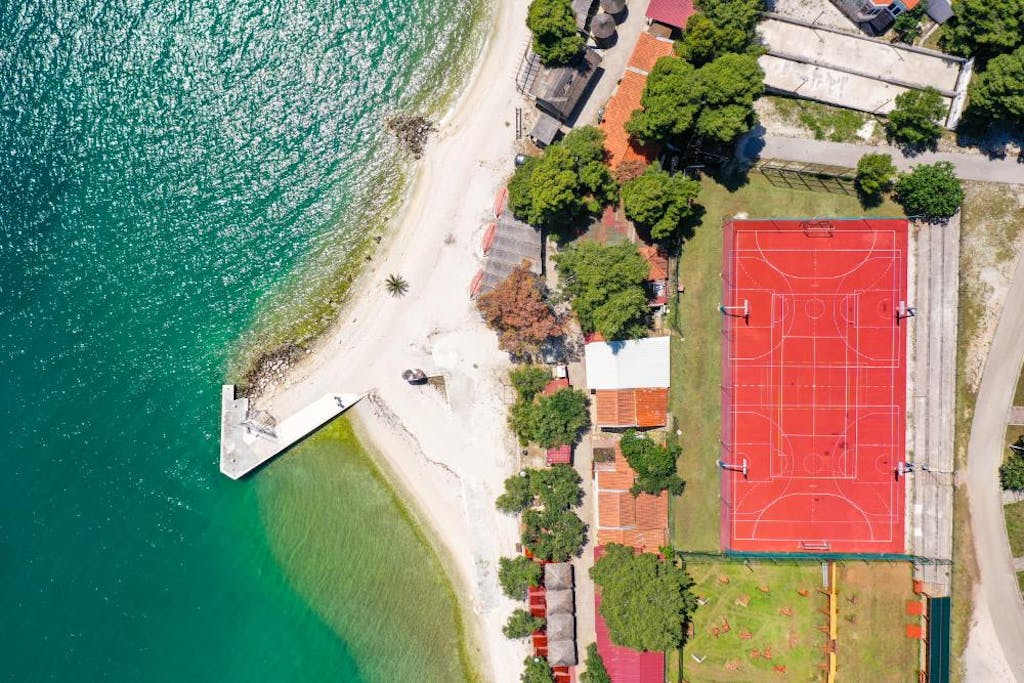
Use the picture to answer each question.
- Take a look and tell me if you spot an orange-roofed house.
Yes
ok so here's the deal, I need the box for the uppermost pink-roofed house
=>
[644,0,692,37]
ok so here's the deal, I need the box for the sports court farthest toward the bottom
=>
[721,219,908,552]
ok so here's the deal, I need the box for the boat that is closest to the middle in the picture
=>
[470,269,483,297]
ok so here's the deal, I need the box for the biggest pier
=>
[220,385,363,479]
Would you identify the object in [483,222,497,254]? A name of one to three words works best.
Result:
boat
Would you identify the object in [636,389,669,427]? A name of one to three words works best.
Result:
house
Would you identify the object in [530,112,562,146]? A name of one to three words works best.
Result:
shed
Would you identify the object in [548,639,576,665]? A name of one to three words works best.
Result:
building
